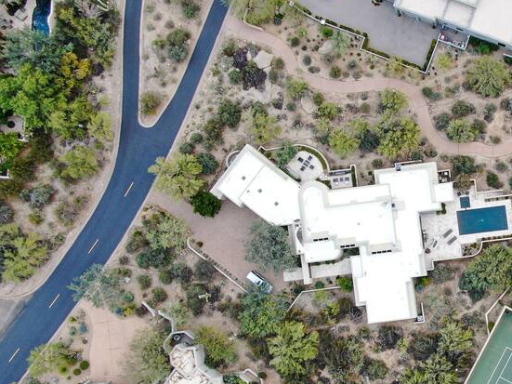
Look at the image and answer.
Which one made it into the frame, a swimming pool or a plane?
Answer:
swimming pool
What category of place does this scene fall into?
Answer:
residential area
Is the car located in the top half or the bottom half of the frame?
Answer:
bottom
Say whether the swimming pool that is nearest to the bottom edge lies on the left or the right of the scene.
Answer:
right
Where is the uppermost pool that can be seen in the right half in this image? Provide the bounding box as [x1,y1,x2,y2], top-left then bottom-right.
[459,194,472,211]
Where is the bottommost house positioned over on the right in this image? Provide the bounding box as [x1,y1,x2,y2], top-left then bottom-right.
[210,144,455,324]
